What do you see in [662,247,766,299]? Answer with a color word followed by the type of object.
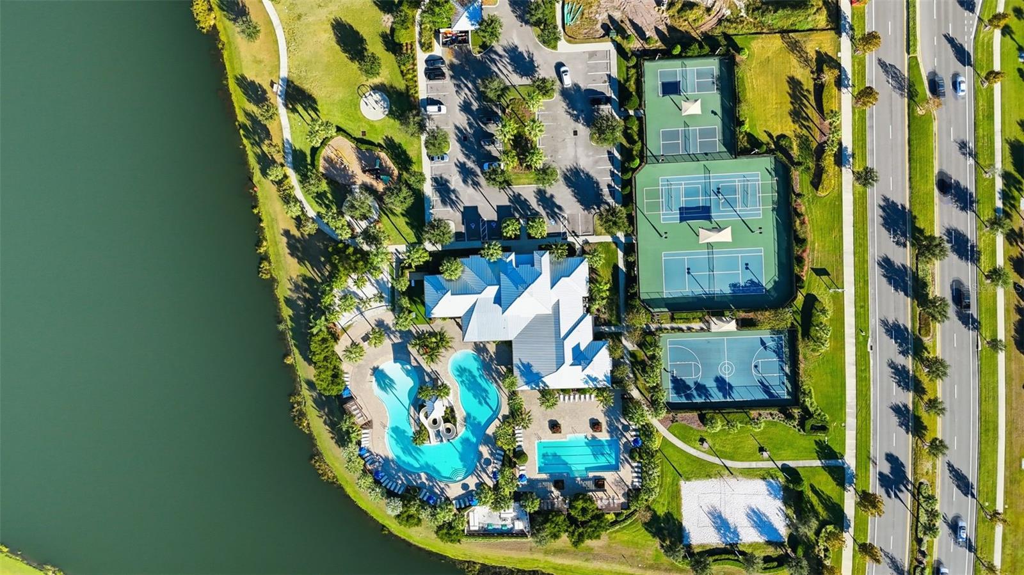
blue tennis court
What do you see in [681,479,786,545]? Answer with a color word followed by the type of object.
white sports court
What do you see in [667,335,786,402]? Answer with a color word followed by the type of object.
blue basketball court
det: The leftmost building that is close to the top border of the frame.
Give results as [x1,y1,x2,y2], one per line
[439,0,482,48]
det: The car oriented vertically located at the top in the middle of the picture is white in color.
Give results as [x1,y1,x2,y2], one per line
[560,65,572,87]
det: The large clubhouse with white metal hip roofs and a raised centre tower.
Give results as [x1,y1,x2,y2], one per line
[424,251,611,389]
